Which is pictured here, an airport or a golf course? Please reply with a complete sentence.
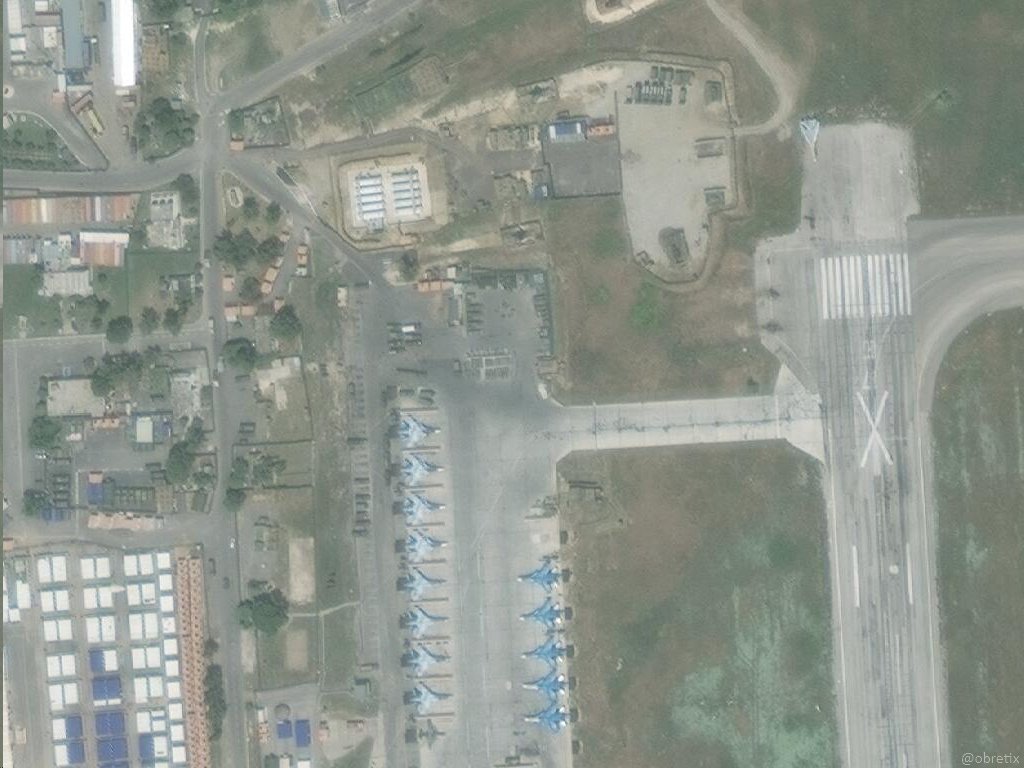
The picture captures an airport.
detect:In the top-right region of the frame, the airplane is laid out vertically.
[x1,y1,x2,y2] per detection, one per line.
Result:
[801,119,820,160]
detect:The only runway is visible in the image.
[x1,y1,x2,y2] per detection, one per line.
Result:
[756,122,953,768]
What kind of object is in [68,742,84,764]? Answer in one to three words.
shed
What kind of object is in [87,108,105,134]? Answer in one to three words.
vehicle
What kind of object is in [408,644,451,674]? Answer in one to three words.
airplane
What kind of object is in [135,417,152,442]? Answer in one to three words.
building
